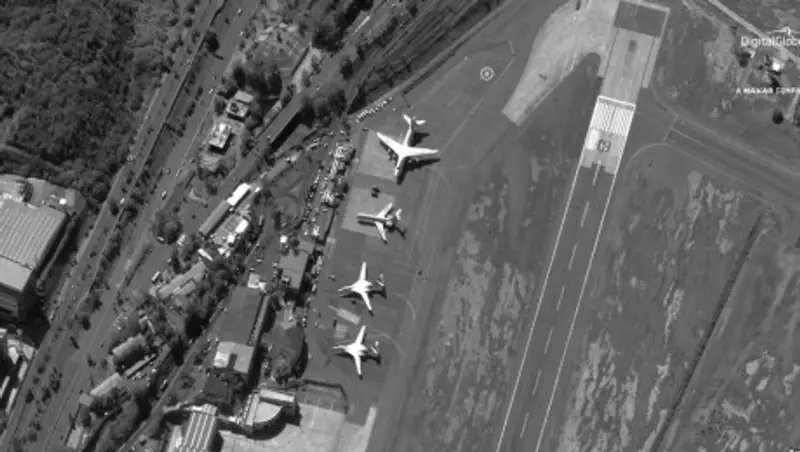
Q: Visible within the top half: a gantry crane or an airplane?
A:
airplane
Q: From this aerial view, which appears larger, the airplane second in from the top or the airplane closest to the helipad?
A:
the airplane closest to the helipad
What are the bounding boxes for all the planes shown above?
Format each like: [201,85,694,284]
[357,205,402,241]
[376,106,438,177]
[333,326,379,374]
[339,262,385,311]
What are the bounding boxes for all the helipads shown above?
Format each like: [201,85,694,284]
[479,65,495,81]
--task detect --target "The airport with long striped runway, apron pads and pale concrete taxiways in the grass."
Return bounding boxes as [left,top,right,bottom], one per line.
[217,0,800,452]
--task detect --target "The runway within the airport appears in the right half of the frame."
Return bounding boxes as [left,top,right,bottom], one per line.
[495,0,670,452]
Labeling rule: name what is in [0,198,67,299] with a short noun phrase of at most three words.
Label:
hangar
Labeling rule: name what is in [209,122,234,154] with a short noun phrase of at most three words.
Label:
house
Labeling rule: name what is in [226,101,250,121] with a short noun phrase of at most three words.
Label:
house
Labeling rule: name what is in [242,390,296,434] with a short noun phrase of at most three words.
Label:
building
